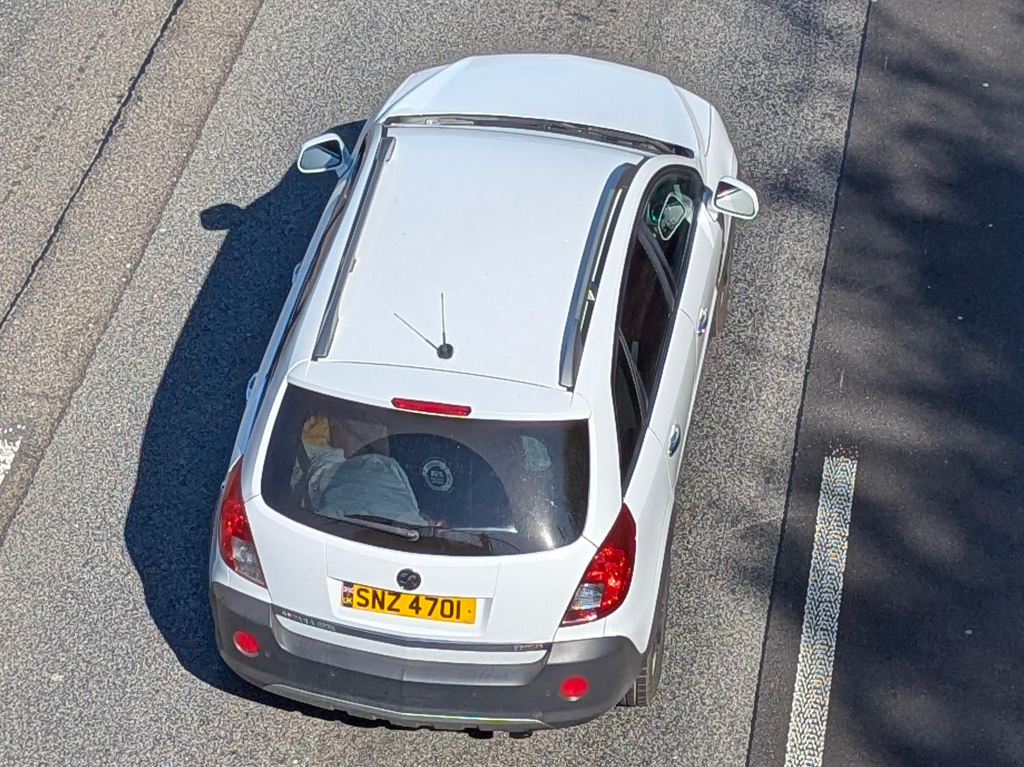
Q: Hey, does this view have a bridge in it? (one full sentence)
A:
No, the photo shows no bridge.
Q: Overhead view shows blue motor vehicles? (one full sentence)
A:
No, the picture doesn't show any blue motor vehicle.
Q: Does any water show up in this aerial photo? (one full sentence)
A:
No, there is no water in the image.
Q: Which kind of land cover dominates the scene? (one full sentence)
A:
The bulk of the photo consists of paved ground.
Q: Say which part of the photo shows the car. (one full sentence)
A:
The car is in the center part of the image.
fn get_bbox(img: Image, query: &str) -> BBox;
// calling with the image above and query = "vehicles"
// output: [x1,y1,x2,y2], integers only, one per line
[209,53,758,744]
